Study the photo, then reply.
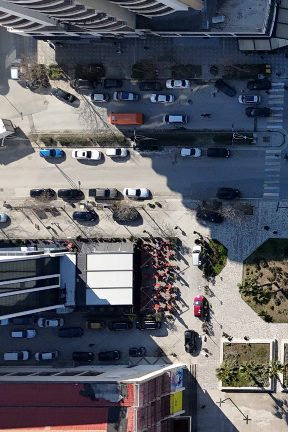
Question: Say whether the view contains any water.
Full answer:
No, the picture contains no water.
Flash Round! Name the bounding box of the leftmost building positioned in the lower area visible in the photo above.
[0,242,84,322]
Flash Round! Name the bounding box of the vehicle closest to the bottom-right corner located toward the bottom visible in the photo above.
[183,329,197,353]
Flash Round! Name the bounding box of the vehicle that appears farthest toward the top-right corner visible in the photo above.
[247,77,272,91]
